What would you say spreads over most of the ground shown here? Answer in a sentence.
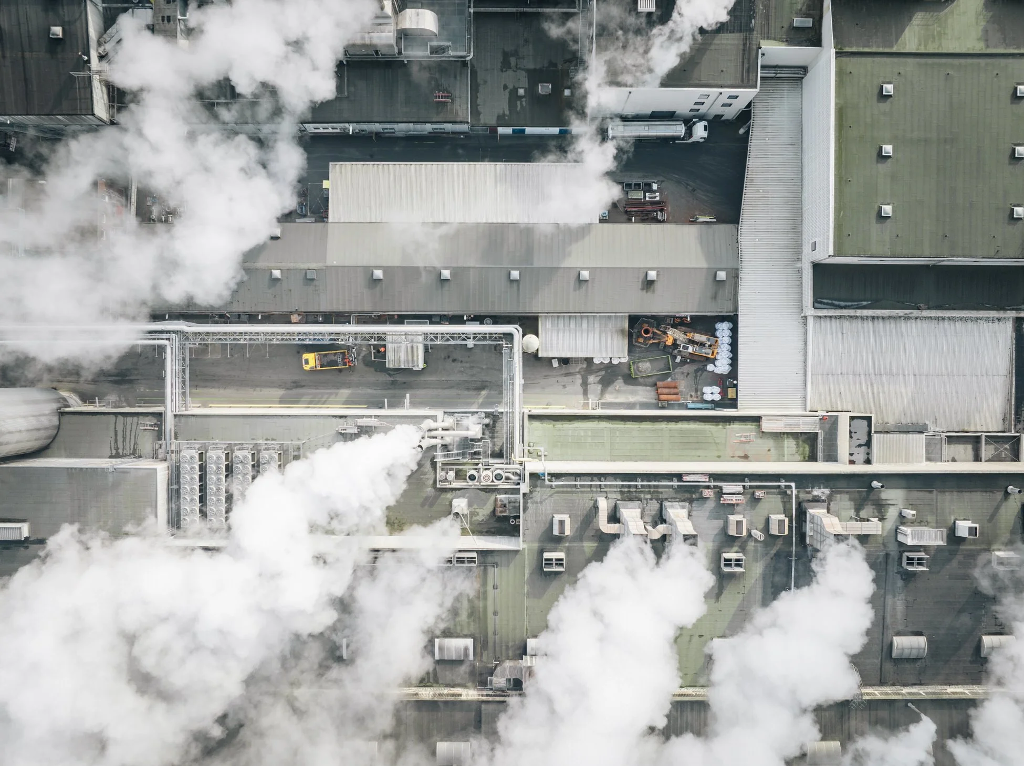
The bulk of the photo consists of buildings.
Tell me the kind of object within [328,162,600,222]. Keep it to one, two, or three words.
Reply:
shed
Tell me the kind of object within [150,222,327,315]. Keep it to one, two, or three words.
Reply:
building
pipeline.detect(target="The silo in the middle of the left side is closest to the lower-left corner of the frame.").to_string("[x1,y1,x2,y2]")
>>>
[0,386,78,461]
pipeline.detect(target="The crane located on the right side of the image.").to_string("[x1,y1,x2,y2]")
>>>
[644,329,724,364]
